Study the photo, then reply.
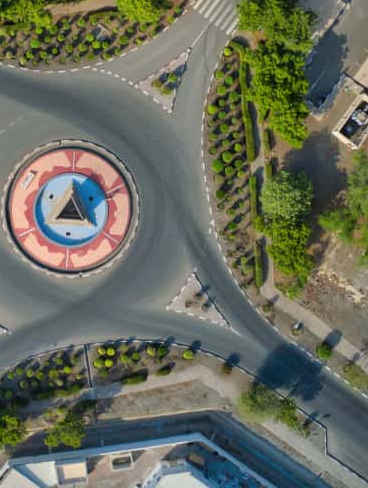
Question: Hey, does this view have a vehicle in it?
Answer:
No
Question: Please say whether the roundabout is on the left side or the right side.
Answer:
left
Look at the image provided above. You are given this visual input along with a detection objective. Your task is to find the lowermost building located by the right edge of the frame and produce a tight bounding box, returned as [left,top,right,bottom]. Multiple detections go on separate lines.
[326,94,368,149]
